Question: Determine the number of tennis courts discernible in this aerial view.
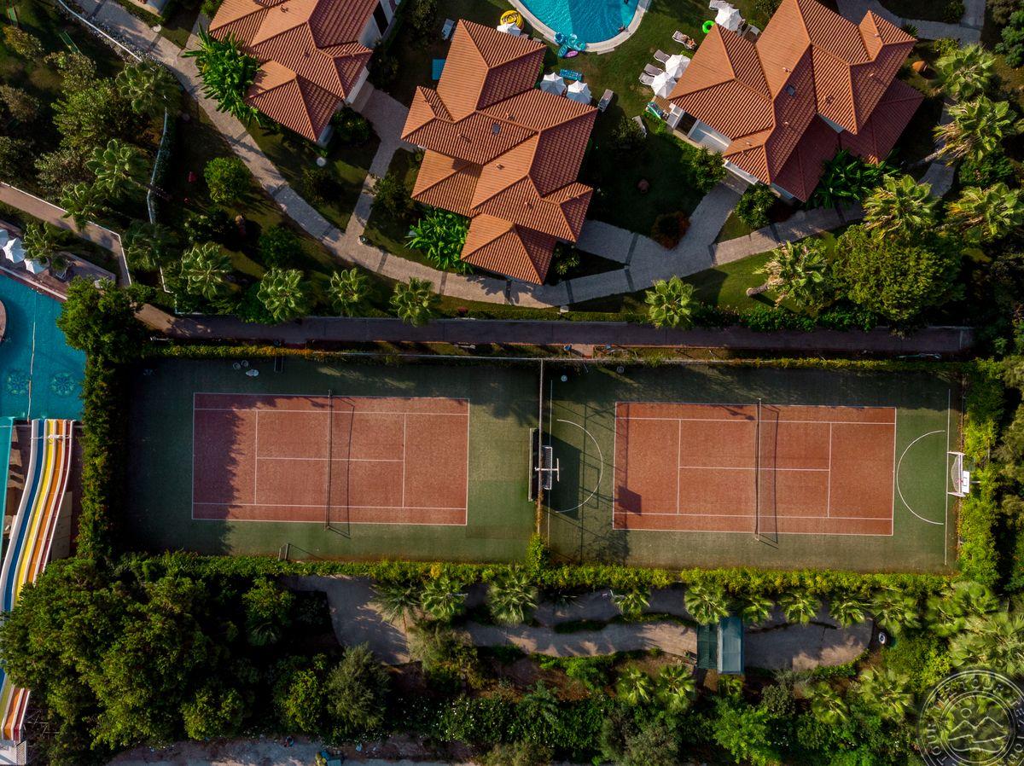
2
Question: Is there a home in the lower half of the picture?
No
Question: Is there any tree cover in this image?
Yes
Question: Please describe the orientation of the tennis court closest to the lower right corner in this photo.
horizontally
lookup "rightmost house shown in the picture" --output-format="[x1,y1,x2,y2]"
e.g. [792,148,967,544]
[668,0,926,219]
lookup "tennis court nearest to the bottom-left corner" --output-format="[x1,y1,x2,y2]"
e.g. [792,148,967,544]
[192,392,469,526]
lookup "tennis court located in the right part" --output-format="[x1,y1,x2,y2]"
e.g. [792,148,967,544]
[548,380,950,566]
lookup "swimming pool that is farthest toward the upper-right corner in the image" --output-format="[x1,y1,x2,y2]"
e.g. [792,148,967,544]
[512,0,650,55]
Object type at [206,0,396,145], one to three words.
house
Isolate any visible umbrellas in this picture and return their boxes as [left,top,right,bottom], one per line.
[563,78,593,105]
[540,70,568,97]
[25,256,56,277]
[5,237,28,265]
[0,224,16,251]
[647,71,677,102]
[661,53,689,83]
[712,5,742,32]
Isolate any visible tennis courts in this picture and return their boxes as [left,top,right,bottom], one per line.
[548,380,950,566]
[192,392,469,526]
